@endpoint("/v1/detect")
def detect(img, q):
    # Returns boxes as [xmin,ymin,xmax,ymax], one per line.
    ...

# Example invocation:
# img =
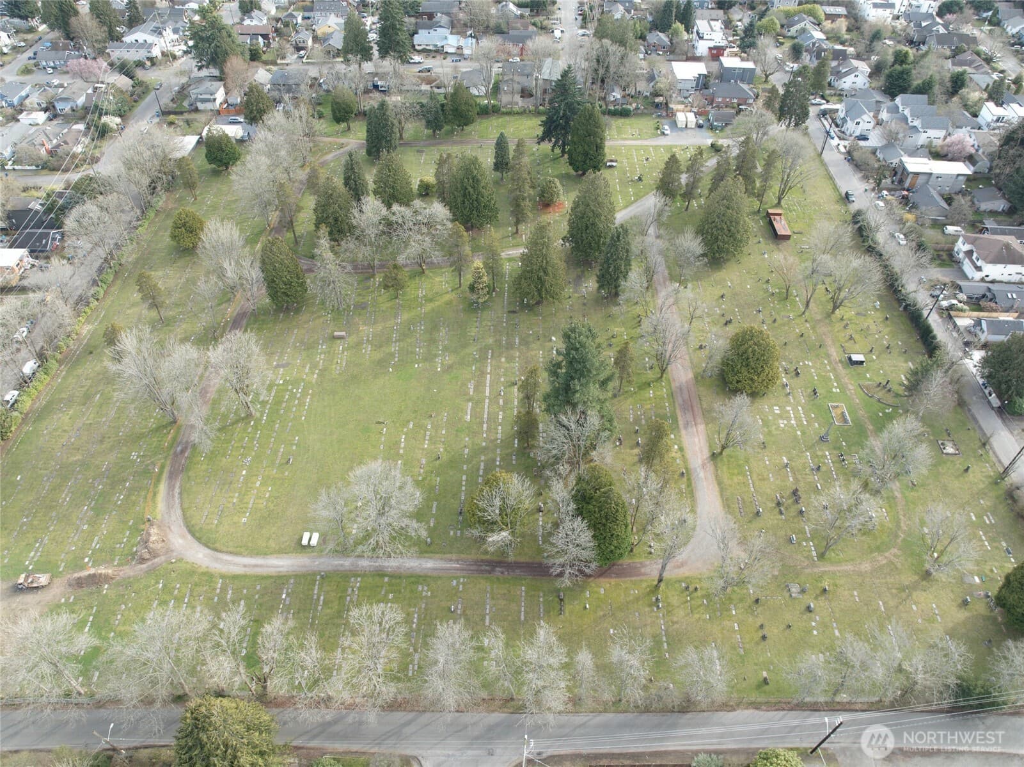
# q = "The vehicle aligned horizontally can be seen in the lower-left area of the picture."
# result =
[8,574,50,593]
